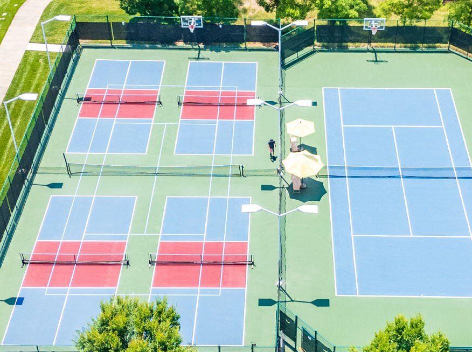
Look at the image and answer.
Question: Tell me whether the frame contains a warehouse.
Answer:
No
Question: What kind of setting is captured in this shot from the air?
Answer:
sports ground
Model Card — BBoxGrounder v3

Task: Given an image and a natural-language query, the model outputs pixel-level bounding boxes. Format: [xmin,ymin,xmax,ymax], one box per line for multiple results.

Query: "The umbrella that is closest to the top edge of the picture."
[289,121,317,142]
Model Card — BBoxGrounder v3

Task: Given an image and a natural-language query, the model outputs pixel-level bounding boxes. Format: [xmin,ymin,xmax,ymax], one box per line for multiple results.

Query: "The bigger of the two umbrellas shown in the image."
[284,146,328,185]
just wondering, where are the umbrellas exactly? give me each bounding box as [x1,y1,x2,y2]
[289,121,317,142]
[284,146,328,185]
